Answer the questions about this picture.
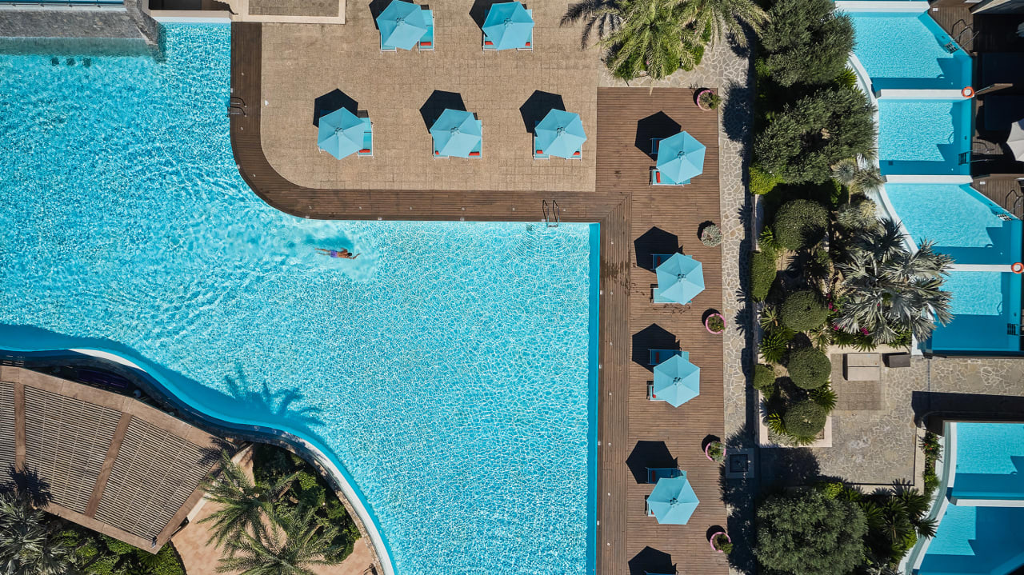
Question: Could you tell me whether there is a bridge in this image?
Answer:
No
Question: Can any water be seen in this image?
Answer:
Yes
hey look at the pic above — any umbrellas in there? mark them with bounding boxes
[317,106,366,160]
[650,353,698,407]
[645,474,699,522]
[533,110,586,162]
[482,2,536,53]
[429,109,484,159]
[377,0,429,53]
[654,132,704,187]
[652,251,703,305]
